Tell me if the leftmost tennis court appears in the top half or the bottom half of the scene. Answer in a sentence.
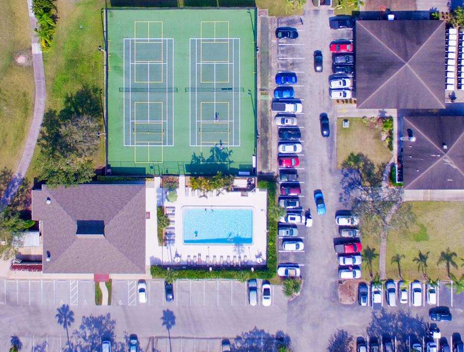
The top half of the photo is where the leftmost tennis court is.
